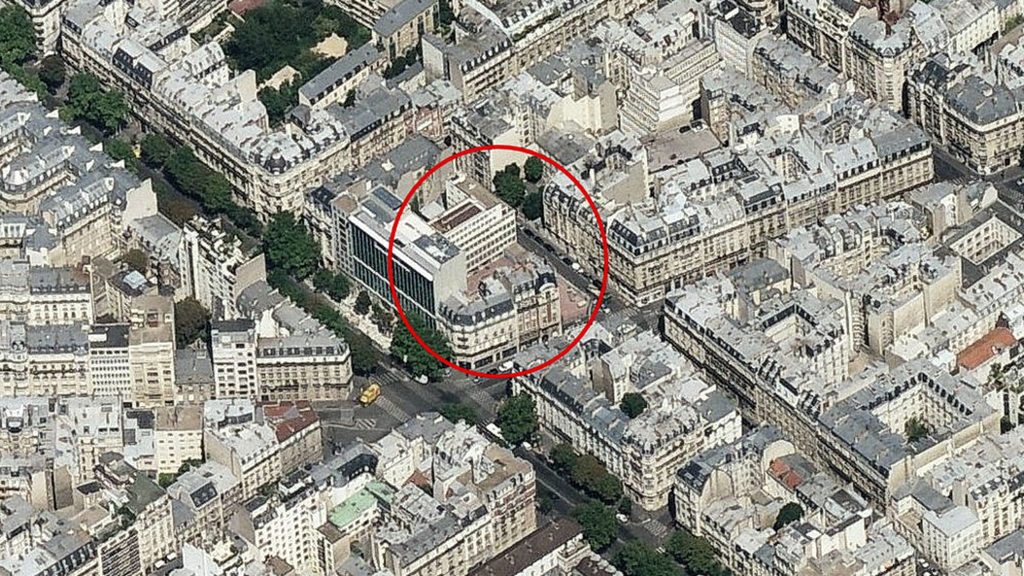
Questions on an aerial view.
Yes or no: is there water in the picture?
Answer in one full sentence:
No, the scene doesn't show any water.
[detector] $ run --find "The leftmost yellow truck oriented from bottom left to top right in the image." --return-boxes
[359,380,380,405]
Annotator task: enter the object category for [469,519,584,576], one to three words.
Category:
building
